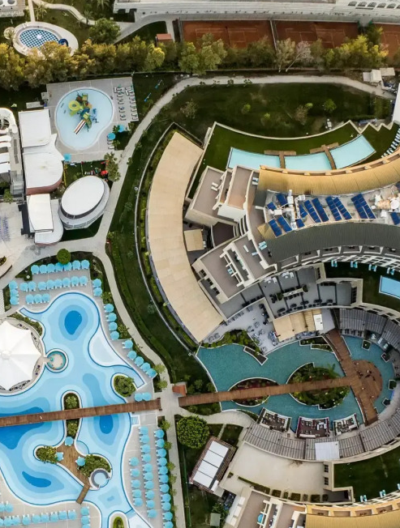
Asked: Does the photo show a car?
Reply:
No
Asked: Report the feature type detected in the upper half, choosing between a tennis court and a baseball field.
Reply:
tennis court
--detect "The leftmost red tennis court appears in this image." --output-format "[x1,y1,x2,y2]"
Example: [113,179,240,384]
[181,14,279,62]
